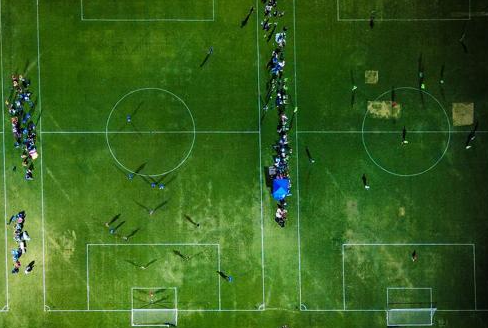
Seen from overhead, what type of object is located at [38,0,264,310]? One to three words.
soccer field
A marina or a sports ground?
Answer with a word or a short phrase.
sports ground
